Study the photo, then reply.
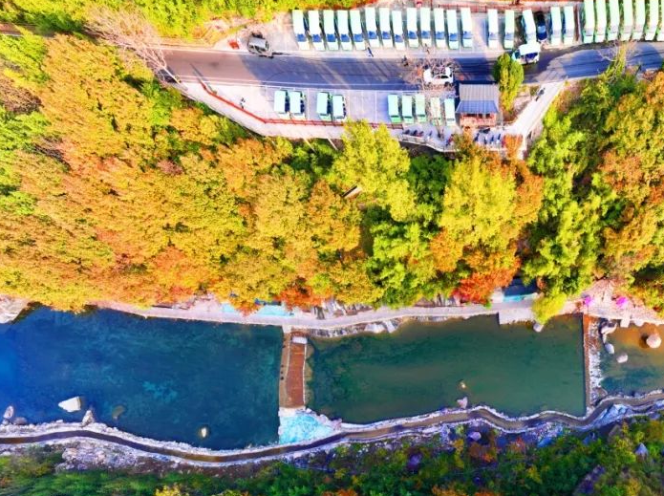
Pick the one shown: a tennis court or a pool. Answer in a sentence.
The image shows a pool.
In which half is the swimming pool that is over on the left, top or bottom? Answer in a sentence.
Seen from above, the swimming pool that is over on the left lies in the bottom half of the view.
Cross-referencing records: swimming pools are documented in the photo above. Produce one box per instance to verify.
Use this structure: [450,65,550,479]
[596,325,664,400]
[0,307,280,451]
[304,314,583,426]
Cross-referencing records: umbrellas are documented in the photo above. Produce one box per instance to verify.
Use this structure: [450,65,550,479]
[616,296,628,307]
[582,295,592,305]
